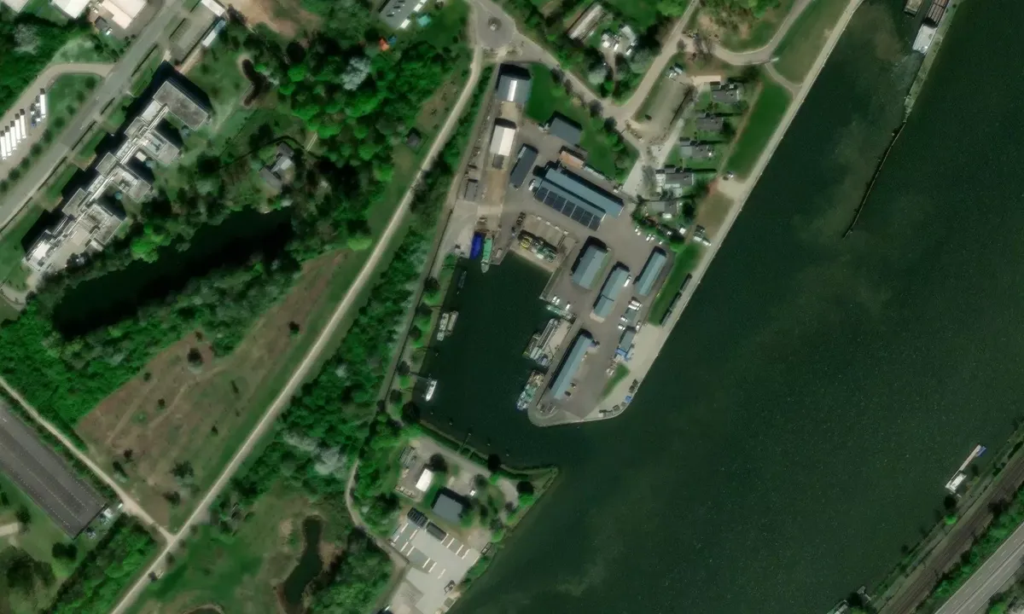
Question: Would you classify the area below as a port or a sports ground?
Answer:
port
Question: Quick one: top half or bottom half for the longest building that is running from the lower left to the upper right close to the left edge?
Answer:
top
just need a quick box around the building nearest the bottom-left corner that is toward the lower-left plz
[0,396,107,538]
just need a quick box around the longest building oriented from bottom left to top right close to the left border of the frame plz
[25,77,215,271]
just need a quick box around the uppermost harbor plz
[430,0,864,426]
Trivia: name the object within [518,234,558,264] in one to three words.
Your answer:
ship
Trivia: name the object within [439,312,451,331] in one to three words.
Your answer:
boat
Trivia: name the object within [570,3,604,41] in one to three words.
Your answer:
greenhouse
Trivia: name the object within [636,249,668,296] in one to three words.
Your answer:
building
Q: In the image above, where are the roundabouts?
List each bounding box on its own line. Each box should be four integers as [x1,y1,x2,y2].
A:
[476,0,516,48]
